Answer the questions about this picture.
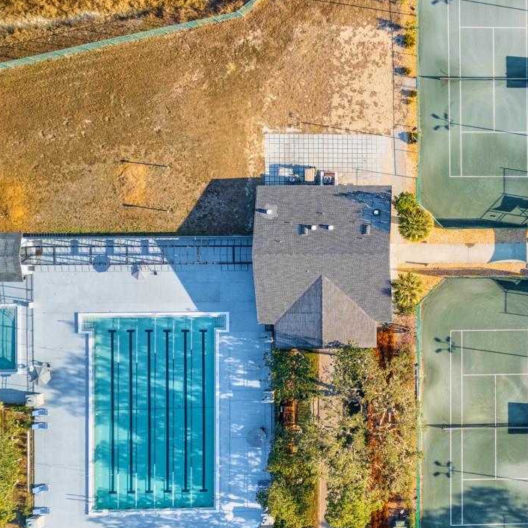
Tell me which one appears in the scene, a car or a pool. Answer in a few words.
pool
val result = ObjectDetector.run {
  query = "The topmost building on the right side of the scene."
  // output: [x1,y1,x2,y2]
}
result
[258,186,392,349]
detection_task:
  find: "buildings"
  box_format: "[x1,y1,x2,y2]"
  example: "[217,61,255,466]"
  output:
[258,186,392,349]
[0,234,33,280]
